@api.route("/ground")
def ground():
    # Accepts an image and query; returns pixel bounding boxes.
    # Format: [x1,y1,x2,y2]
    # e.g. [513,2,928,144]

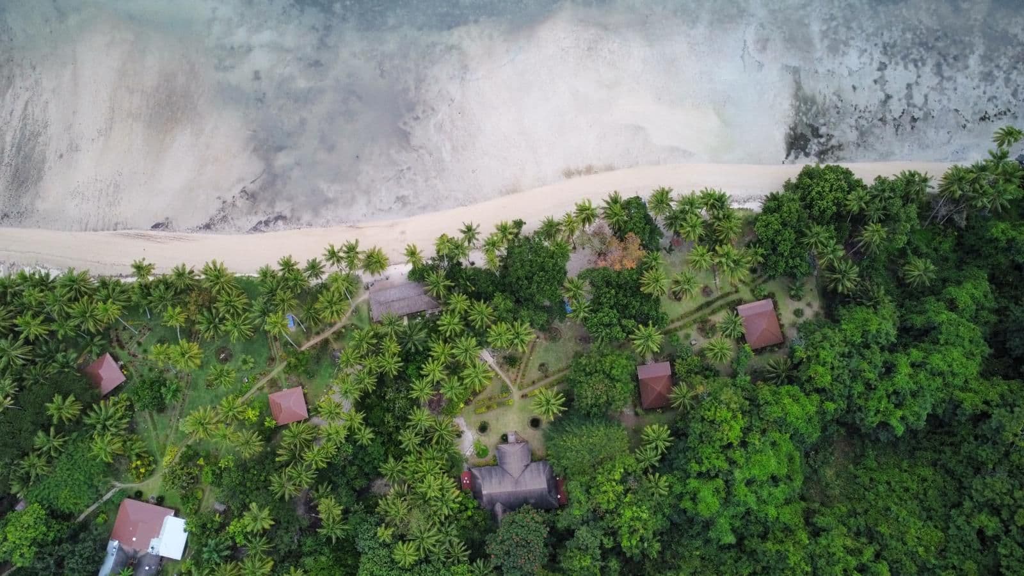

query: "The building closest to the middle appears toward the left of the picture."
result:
[369,282,441,323]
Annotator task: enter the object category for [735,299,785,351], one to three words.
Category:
house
